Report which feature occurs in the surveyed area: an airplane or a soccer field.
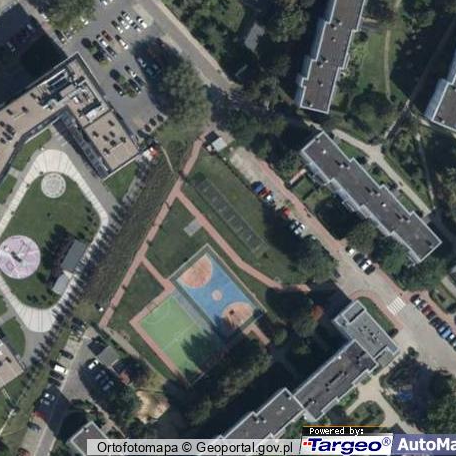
soccer field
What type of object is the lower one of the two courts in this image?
basketball court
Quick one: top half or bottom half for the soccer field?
bottom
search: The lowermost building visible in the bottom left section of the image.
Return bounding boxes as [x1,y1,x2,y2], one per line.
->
[63,418,124,456]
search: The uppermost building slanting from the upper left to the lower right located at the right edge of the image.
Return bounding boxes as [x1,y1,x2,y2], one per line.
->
[294,130,442,262]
